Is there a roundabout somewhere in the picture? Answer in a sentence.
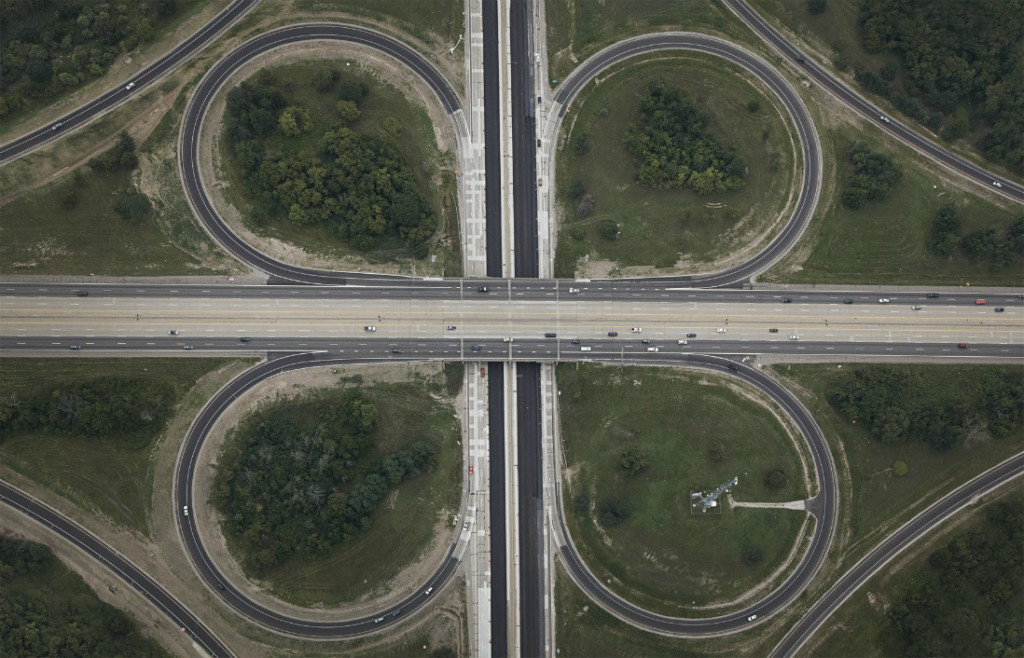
No, there's no roundabout here.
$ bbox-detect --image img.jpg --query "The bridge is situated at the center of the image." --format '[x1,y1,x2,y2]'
[423,272,591,371]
